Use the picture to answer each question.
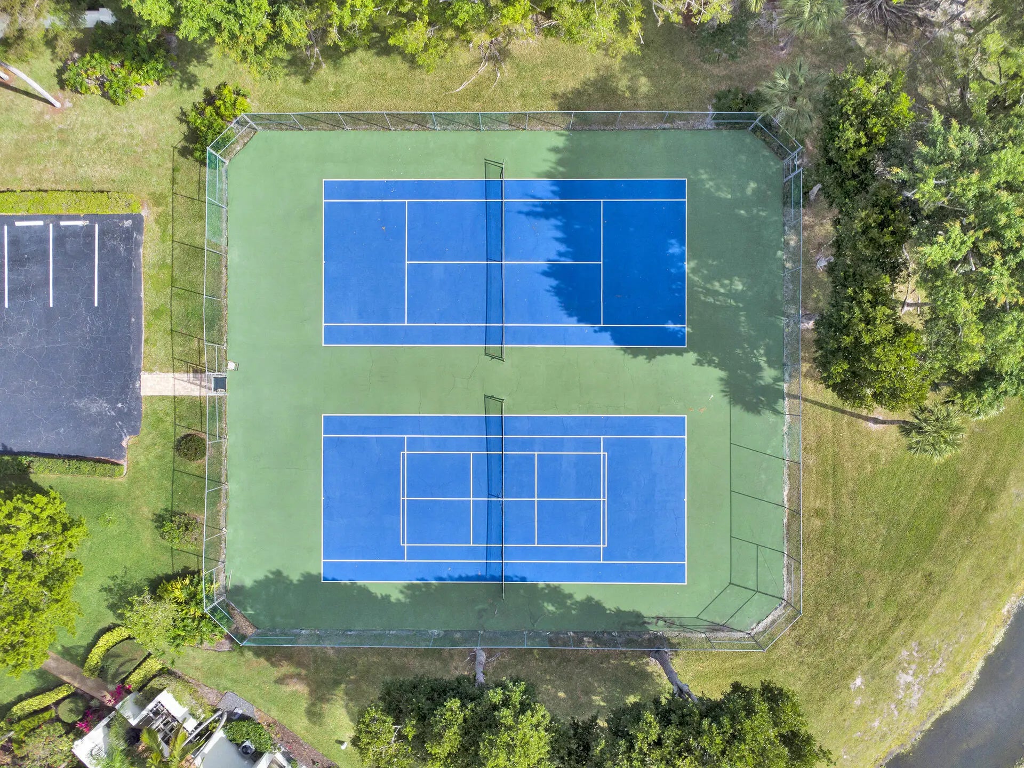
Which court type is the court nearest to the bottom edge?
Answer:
tennis court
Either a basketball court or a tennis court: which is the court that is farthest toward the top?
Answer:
tennis court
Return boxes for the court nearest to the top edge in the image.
[323,178,687,348]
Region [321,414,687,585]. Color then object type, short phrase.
blue tennis court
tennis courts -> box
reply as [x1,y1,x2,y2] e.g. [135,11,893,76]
[323,178,687,348]
[321,414,687,585]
